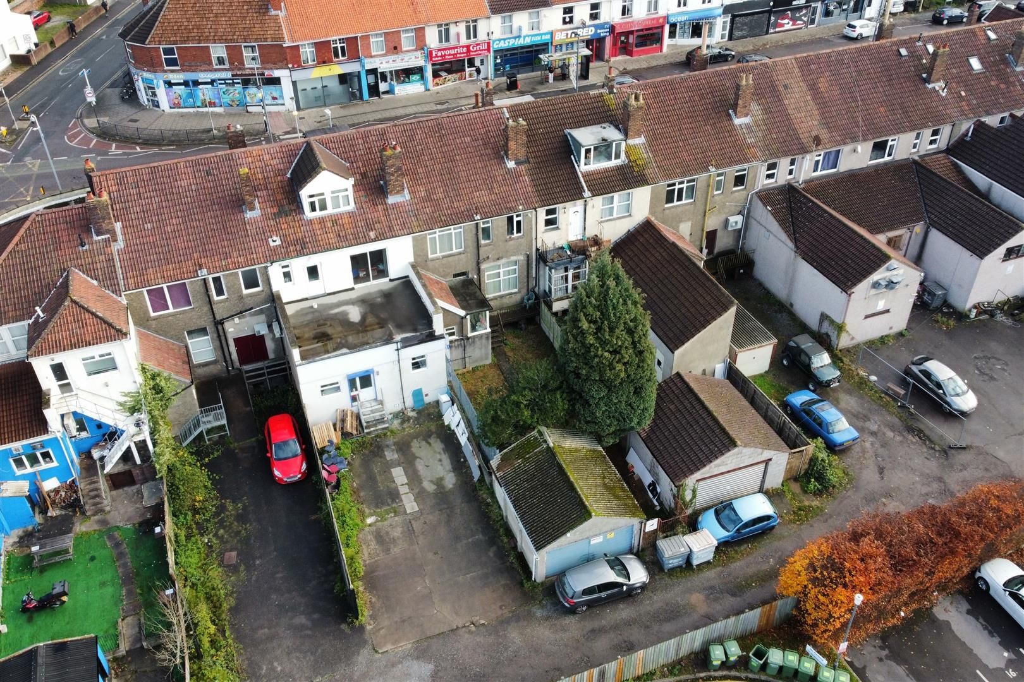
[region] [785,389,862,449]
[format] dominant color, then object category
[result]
blue car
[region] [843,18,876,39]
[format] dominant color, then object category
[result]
white car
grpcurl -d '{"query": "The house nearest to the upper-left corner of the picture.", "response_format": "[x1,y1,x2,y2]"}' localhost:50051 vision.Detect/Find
[0,13,37,71]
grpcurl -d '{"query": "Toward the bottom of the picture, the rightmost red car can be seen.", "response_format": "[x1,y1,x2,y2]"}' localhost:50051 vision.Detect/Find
[264,418,312,485]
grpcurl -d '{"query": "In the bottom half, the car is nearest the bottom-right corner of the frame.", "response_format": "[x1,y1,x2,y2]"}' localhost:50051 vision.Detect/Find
[979,560,1024,635]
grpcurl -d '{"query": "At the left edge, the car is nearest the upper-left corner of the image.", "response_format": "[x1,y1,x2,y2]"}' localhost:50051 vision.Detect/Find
[21,9,51,28]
